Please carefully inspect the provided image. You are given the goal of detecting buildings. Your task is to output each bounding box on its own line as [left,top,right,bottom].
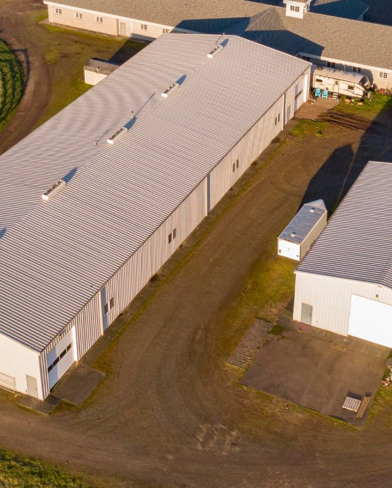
[291,161,392,348]
[0,32,314,401]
